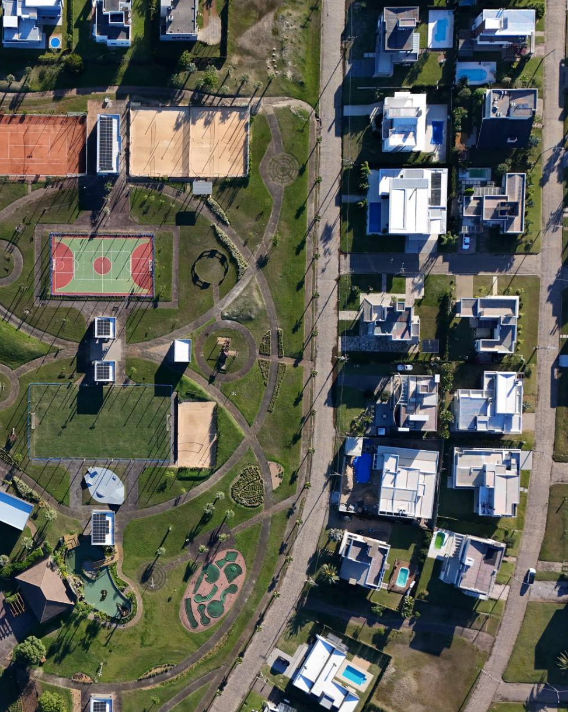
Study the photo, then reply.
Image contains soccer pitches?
Yes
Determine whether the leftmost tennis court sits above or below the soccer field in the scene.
above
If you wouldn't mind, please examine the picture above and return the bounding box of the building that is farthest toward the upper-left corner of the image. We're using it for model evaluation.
[2,0,62,51]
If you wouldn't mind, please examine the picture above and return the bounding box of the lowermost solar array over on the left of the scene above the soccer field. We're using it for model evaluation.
[96,363,109,380]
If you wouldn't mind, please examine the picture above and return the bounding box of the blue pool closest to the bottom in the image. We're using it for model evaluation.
[340,664,369,687]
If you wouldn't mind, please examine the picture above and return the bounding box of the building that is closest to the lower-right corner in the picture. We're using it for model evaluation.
[437,532,506,596]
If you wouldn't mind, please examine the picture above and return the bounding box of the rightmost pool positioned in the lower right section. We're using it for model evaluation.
[433,532,445,549]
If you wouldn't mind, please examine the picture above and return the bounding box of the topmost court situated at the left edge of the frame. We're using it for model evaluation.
[0,108,88,177]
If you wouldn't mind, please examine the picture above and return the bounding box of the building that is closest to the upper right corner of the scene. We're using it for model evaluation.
[467,9,535,61]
